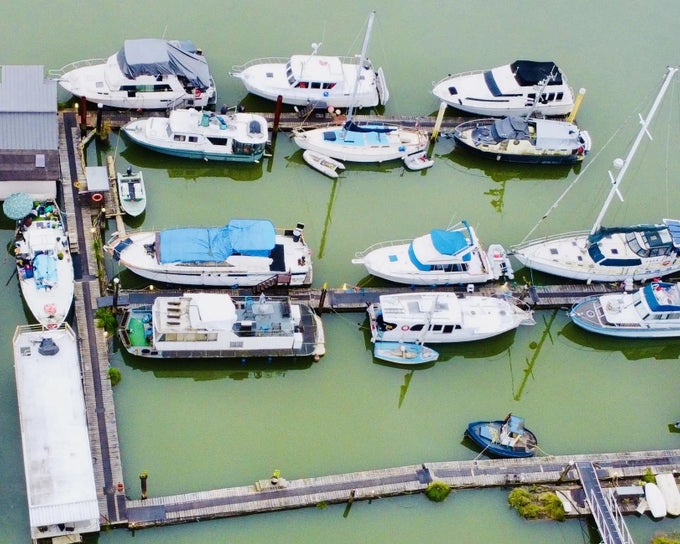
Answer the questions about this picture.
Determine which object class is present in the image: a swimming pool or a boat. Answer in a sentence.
There is a boat in the scene.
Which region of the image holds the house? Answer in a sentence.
The house is located in the top left region of the scene.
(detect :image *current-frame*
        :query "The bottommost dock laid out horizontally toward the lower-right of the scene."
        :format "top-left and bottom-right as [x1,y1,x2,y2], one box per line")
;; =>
[426,453,680,489]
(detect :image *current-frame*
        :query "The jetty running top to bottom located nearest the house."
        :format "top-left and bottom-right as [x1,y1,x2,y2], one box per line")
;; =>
[60,102,130,532]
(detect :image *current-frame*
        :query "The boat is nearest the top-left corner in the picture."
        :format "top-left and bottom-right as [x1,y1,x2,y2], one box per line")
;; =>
[52,21,219,110]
